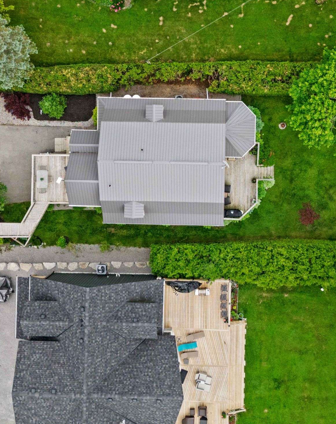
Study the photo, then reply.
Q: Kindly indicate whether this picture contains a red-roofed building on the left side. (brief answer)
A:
No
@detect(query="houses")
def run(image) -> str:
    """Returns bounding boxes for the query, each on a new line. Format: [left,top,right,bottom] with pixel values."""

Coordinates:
[64,96,257,227]
[12,271,183,424]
